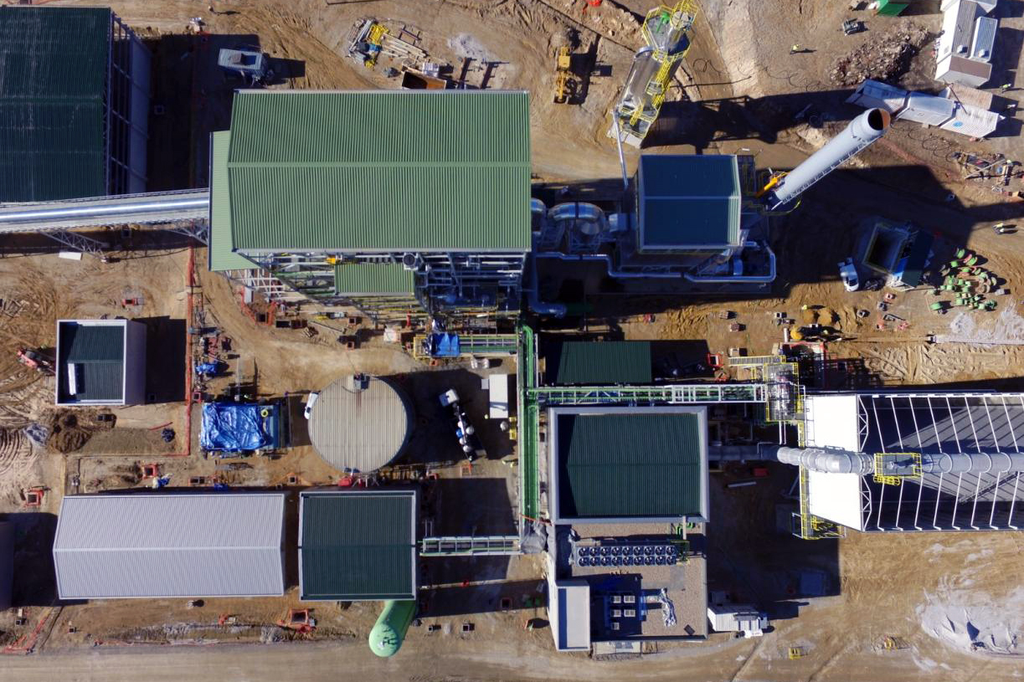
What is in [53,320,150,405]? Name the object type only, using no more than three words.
building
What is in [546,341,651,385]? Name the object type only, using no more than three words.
shed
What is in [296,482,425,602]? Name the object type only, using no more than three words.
building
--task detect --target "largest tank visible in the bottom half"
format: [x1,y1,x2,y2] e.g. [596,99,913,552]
[307,374,417,476]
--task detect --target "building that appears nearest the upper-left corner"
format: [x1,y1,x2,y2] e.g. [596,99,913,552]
[0,8,155,205]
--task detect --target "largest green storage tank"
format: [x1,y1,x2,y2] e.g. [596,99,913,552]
[370,596,419,654]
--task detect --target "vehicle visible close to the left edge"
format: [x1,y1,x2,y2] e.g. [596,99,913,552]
[14,348,54,378]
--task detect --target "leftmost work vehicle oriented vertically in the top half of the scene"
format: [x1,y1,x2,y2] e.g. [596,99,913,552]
[556,50,574,103]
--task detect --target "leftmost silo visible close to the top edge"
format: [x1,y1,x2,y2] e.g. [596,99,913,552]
[605,0,707,137]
